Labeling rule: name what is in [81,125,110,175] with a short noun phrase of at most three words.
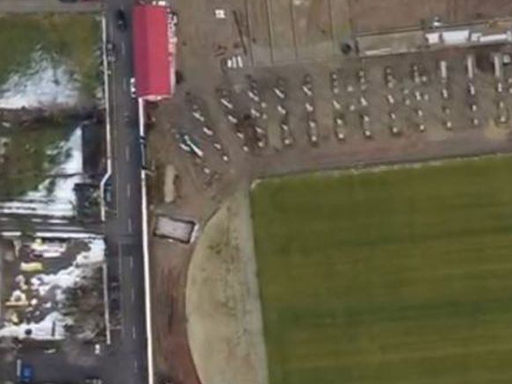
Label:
shed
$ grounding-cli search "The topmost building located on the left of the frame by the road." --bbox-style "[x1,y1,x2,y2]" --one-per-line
[130,0,182,100]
